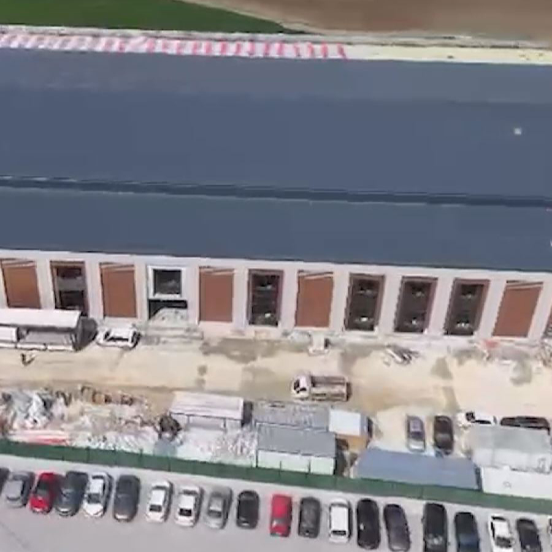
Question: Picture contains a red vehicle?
Yes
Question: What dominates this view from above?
buildings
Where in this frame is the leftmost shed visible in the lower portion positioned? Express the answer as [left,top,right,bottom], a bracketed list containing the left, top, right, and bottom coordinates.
[170,392,243,439]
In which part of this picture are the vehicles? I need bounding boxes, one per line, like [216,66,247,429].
[28,469,63,515]
[233,486,261,534]
[202,481,231,534]
[430,414,457,454]
[144,480,174,526]
[512,513,546,552]
[267,489,293,543]
[82,469,113,520]
[353,496,383,552]
[417,499,453,552]
[451,508,483,552]
[109,471,143,524]
[327,494,354,549]
[174,483,202,529]
[504,412,552,436]
[1,467,37,513]
[485,511,519,552]
[404,412,429,452]
[297,496,322,543]
[55,469,87,520]
[383,501,412,552]
[451,407,507,430]
[97,327,140,350]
